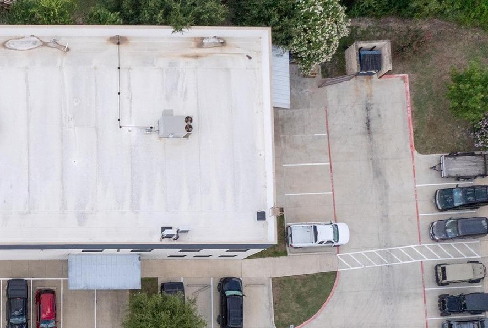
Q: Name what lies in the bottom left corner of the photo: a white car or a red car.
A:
red car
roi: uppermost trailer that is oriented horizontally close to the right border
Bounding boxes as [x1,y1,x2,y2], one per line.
[425,149,488,183]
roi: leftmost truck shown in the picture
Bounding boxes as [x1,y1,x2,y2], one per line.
[4,278,31,328]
